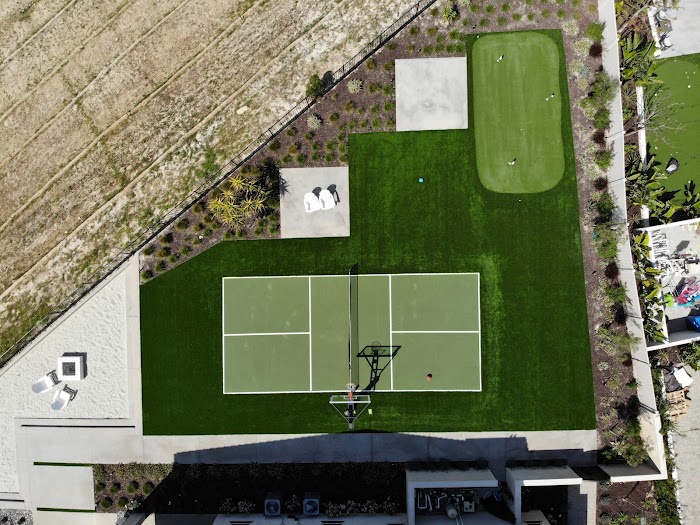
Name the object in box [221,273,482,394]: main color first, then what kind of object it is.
green sports court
